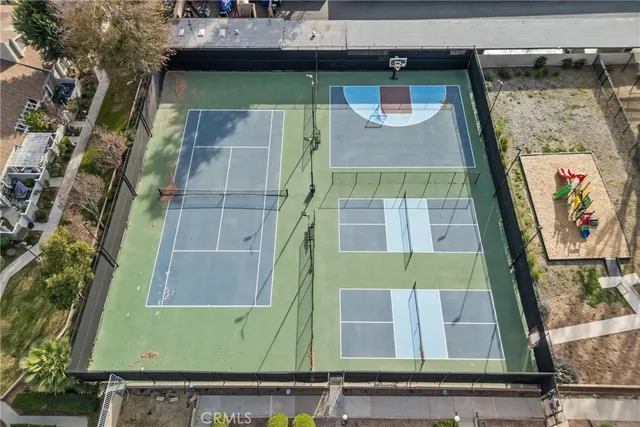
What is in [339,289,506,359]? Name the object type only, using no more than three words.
sports court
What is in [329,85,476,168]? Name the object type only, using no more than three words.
basketball court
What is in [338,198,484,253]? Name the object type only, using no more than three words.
sports court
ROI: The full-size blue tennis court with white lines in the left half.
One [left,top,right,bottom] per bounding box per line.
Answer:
[146,109,284,307]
